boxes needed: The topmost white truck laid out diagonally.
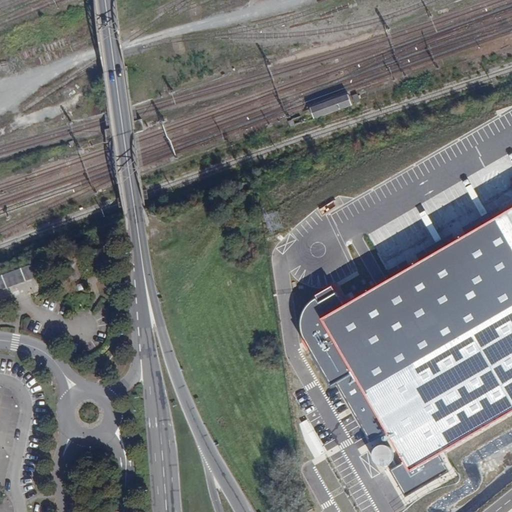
[463,180,488,216]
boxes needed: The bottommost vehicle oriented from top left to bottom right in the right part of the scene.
[420,210,444,246]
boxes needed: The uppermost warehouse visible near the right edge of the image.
[320,204,512,467]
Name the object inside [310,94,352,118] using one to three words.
shed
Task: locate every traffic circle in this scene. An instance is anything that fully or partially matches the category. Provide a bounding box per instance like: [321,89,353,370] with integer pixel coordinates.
[56,380,116,440]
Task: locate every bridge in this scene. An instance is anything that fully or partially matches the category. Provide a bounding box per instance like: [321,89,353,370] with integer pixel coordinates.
[93,0,148,206]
